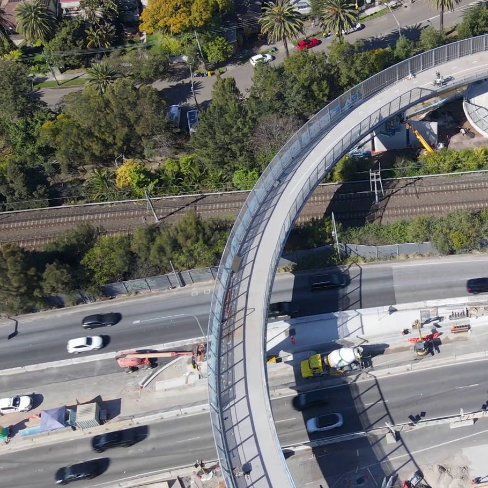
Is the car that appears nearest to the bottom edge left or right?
left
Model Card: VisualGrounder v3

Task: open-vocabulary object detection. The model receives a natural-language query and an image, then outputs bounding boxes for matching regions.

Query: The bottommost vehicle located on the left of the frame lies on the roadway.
[55,459,102,485]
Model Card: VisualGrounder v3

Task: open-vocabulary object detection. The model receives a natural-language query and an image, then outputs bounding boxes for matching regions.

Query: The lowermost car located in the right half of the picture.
[305,413,345,436]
